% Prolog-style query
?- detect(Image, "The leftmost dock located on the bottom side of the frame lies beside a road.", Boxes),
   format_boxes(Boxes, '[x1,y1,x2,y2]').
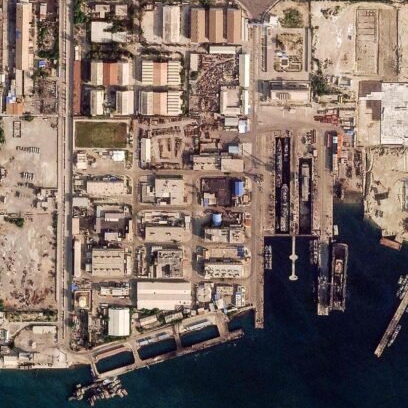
[87,321,244,382]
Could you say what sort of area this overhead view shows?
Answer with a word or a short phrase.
port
